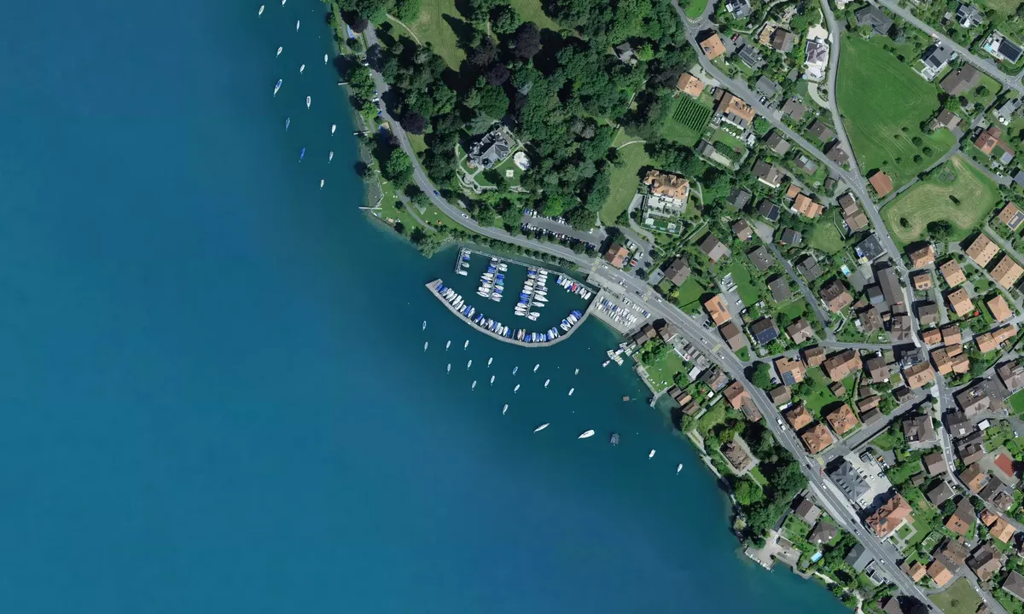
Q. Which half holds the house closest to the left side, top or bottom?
top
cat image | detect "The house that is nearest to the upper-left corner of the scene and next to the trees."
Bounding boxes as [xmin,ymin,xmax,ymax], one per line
[468,128,516,167]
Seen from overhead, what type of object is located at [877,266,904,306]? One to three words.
barn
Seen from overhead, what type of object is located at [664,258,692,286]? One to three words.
house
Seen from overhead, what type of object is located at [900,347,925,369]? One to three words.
house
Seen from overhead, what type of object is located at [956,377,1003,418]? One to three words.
building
